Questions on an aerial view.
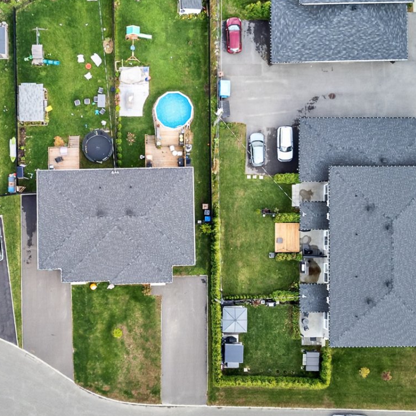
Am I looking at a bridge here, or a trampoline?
trampoline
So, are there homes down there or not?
Yes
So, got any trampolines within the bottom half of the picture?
No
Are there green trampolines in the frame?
No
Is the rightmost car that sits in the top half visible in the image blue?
No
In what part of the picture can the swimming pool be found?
top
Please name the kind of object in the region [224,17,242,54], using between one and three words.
car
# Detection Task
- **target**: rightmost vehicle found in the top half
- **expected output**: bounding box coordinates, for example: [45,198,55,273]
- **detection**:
[275,124,296,163]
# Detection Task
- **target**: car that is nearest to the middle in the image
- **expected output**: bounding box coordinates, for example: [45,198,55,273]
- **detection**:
[249,131,267,167]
